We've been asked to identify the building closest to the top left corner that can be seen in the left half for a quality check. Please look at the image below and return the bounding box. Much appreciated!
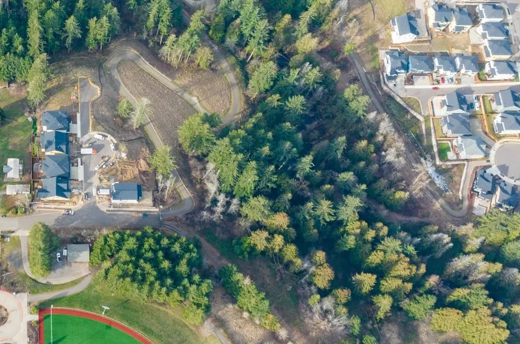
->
[44,110,68,133]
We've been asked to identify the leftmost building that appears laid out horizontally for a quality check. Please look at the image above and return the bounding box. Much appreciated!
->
[6,184,31,196]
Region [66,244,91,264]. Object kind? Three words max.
shed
